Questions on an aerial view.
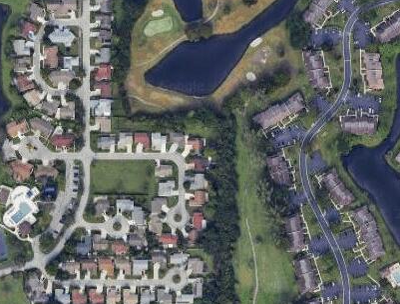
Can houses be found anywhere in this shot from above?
Yes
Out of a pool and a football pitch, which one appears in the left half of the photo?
pool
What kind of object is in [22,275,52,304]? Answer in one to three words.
house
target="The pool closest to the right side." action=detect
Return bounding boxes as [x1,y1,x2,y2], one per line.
[383,262,400,286]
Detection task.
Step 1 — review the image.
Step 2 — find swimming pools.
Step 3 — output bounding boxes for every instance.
[0,186,39,228]
[383,262,400,286]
